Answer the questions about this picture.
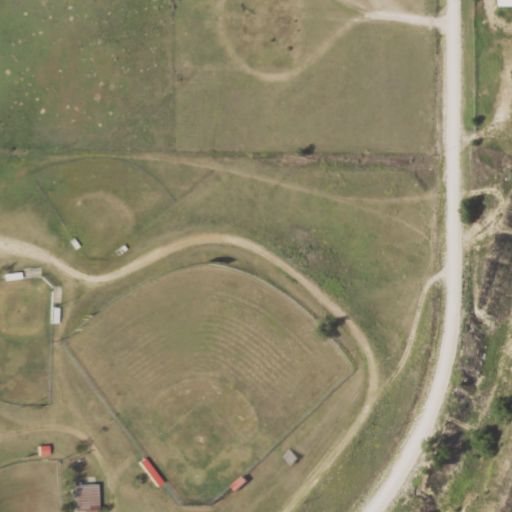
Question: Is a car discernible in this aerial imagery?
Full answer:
No, the frame has no car in it.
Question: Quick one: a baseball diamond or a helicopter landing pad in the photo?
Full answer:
I can see a baseball diamond in this picture.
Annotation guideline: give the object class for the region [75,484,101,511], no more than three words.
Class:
building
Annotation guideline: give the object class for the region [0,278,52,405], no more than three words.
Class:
baseball field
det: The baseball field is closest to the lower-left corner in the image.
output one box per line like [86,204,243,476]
[0,460,60,512]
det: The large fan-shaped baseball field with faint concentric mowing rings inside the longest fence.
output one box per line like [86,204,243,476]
[62,264,355,506]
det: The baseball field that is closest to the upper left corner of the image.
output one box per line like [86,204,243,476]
[34,158,176,259]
